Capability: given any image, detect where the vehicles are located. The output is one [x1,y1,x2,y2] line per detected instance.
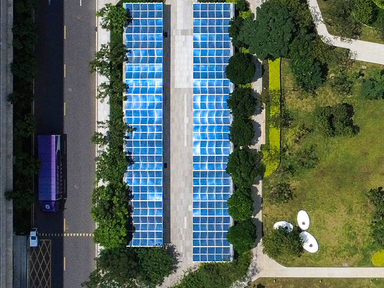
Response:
[28,228,40,247]
[38,134,64,211]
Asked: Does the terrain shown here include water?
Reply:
No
